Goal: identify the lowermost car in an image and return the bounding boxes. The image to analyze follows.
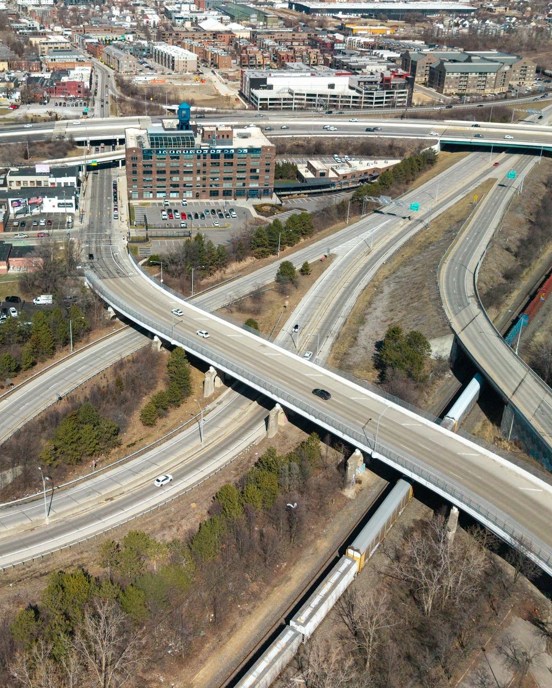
[153,475,172,487]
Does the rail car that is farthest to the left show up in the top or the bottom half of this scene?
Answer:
bottom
